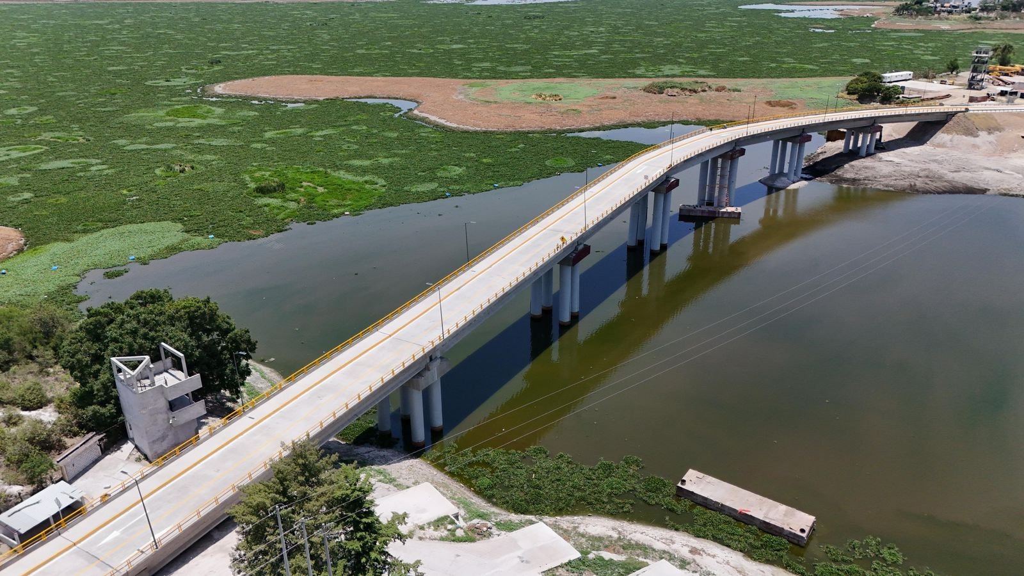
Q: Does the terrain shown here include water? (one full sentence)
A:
Yes, water shows up in the scene.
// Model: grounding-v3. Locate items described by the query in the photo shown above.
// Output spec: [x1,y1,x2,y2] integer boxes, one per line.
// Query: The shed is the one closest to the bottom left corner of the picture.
[0,481,87,548]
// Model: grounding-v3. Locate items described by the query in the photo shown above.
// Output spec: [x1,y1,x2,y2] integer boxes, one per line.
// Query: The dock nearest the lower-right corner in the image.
[675,470,815,551]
